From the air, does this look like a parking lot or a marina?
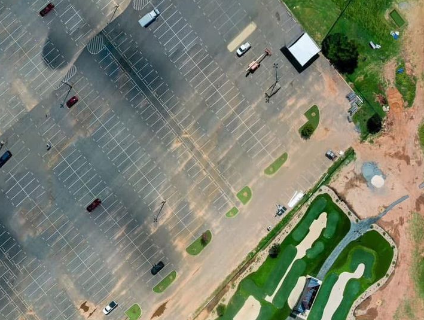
parking lot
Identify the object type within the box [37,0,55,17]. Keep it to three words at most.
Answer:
vehicle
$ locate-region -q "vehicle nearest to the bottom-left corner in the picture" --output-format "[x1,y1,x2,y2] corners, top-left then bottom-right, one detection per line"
[101,299,119,316]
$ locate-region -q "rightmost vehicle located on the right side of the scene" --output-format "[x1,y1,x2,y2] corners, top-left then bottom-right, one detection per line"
[323,148,340,161]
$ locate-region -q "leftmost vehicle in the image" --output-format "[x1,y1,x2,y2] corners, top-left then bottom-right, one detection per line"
[0,150,12,167]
